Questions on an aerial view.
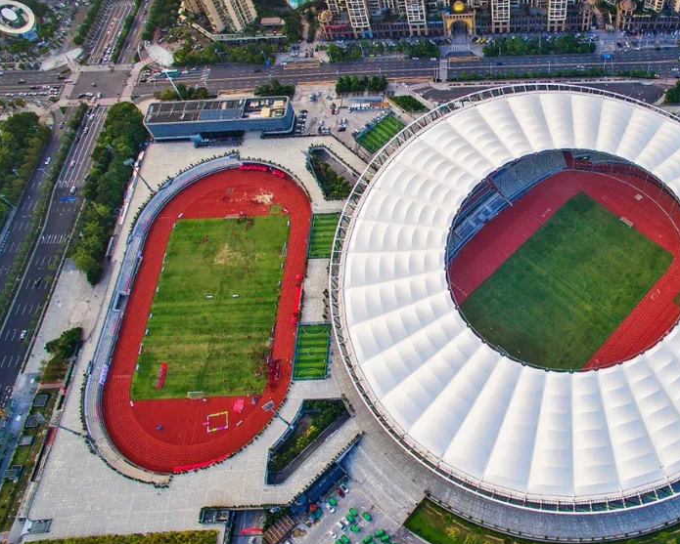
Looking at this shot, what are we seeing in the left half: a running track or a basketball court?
running track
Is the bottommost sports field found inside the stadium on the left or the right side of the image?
right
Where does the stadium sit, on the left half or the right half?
right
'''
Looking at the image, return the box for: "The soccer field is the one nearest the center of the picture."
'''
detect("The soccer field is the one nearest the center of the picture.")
[304,210,341,259]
